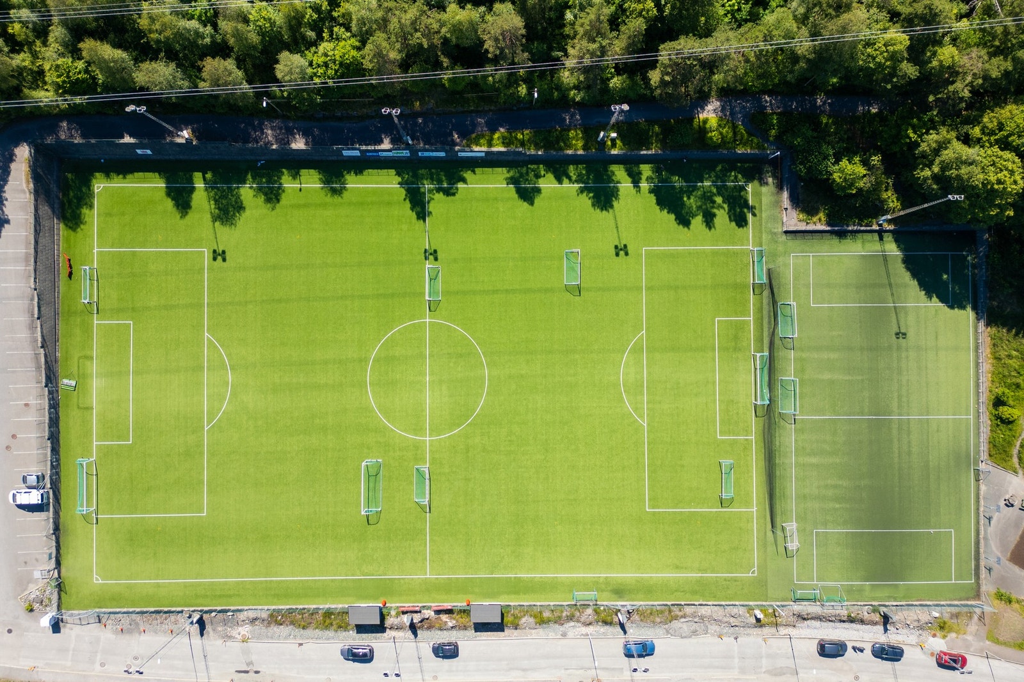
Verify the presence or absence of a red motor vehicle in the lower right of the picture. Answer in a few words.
Yes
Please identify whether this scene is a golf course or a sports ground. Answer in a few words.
sports ground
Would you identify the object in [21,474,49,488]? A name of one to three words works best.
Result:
car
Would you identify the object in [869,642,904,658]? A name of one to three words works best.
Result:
car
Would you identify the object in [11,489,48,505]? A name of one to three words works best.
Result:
vehicle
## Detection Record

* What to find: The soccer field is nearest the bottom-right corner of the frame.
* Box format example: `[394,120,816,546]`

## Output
[762,157,982,605]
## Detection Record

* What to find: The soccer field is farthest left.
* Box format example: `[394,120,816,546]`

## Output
[57,156,767,610]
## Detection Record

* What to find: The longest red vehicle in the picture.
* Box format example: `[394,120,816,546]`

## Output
[934,649,967,668]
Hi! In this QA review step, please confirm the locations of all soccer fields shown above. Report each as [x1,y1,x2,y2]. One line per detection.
[57,156,767,610]
[762,157,982,605]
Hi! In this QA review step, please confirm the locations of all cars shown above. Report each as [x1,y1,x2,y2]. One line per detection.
[815,639,847,656]
[934,649,967,668]
[432,642,460,657]
[341,643,374,659]
[869,642,904,658]
[21,474,49,488]
[622,639,654,656]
